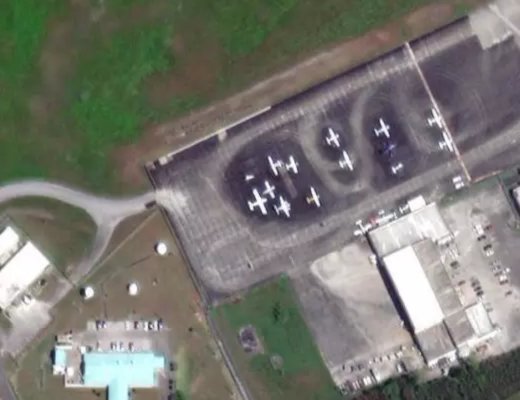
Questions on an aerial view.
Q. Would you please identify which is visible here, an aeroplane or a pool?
aeroplane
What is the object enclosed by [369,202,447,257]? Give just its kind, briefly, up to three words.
hangar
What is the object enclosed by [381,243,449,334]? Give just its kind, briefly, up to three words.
hangar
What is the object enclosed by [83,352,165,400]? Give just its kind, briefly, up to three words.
building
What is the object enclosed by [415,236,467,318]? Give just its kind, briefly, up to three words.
building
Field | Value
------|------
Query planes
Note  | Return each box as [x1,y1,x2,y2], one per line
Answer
[268,156,283,175]
[246,189,267,214]
[260,182,274,197]
[274,196,291,217]
[324,128,339,146]
[427,109,442,127]
[378,139,394,157]
[401,200,412,213]
[304,187,321,207]
[337,150,353,170]
[437,131,453,151]
[374,119,390,137]
[390,160,402,174]
[284,156,299,173]
[355,220,371,235]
